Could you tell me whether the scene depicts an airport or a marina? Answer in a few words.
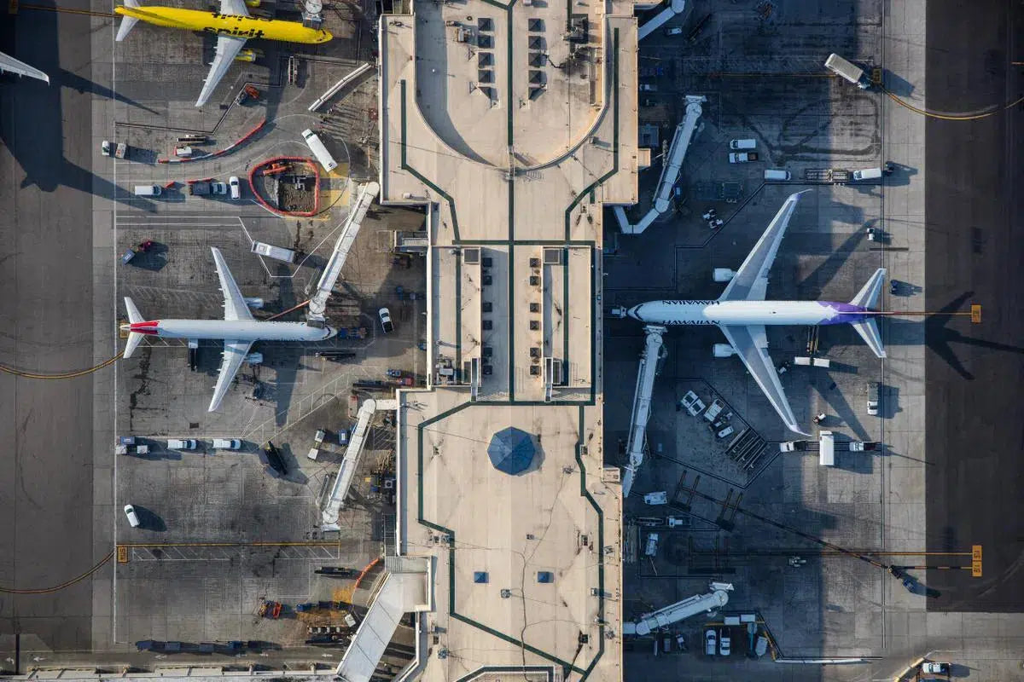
airport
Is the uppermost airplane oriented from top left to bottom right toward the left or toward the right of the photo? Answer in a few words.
left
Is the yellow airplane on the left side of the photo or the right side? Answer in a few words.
left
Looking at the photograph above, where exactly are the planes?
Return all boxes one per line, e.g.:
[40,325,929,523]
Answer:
[628,187,892,438]
[117,0,333,103]
[0,43,52,87]
[123,247,337,411]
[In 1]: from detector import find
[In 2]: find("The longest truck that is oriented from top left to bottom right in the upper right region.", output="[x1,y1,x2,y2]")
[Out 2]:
[823,55,867,92]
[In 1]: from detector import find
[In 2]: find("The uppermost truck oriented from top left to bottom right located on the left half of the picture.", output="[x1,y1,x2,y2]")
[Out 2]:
[301,129,341,172]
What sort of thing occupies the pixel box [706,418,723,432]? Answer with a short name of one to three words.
work vehicle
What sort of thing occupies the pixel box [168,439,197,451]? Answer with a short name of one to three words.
vehicle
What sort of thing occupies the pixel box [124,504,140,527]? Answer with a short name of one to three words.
car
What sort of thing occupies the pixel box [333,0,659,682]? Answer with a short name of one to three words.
building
